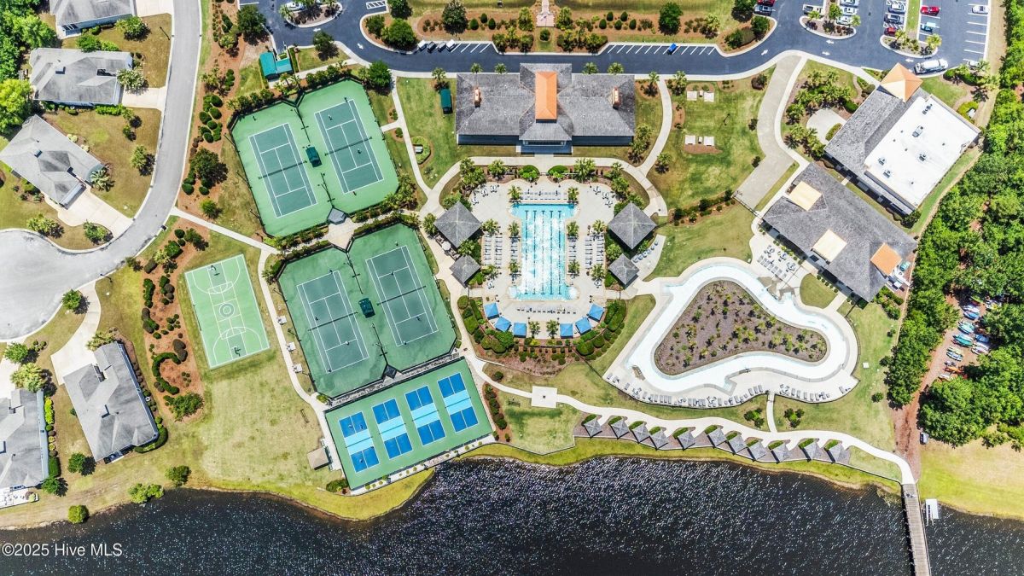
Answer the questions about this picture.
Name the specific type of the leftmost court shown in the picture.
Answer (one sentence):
I'd say the leftmost court is a basketball court.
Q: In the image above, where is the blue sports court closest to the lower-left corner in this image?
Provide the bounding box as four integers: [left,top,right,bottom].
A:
[339,411,379,473]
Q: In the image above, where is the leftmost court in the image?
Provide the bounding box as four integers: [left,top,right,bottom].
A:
[184,254,270,369]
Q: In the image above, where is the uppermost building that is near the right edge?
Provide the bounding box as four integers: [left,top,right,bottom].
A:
[822,62,982,214]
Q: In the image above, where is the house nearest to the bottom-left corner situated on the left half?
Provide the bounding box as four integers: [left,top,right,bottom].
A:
[0,388,50,486]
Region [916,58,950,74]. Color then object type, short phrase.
white vehicle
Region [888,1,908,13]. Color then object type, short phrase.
white vehicle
